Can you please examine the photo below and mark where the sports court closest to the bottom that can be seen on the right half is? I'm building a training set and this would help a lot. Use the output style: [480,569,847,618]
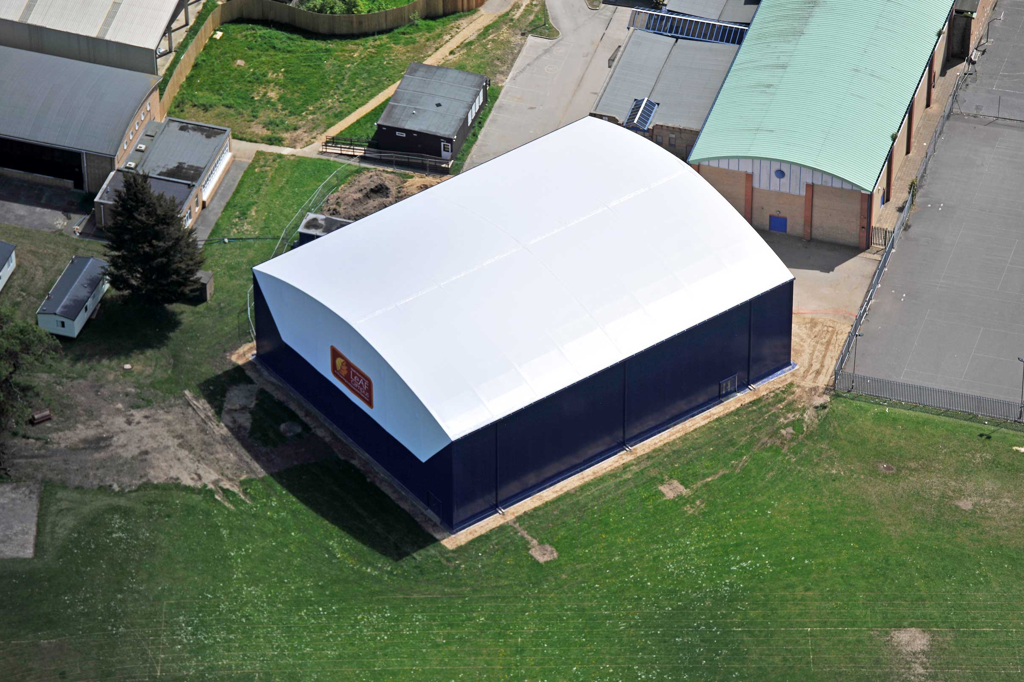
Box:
[835,109,1024,422]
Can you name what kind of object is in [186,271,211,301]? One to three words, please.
shed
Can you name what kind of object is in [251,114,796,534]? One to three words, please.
building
